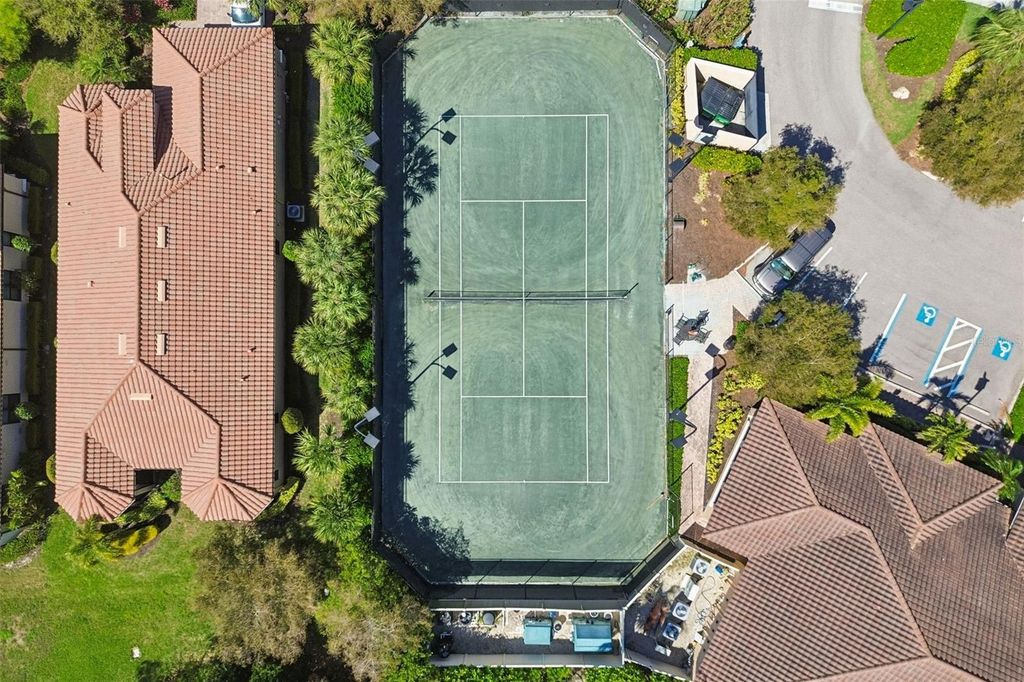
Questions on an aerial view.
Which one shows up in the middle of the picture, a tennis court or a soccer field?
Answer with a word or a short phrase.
tennis court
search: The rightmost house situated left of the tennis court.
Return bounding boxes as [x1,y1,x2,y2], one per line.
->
[54,24,286,522]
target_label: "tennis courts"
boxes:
[382,13,668,585]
